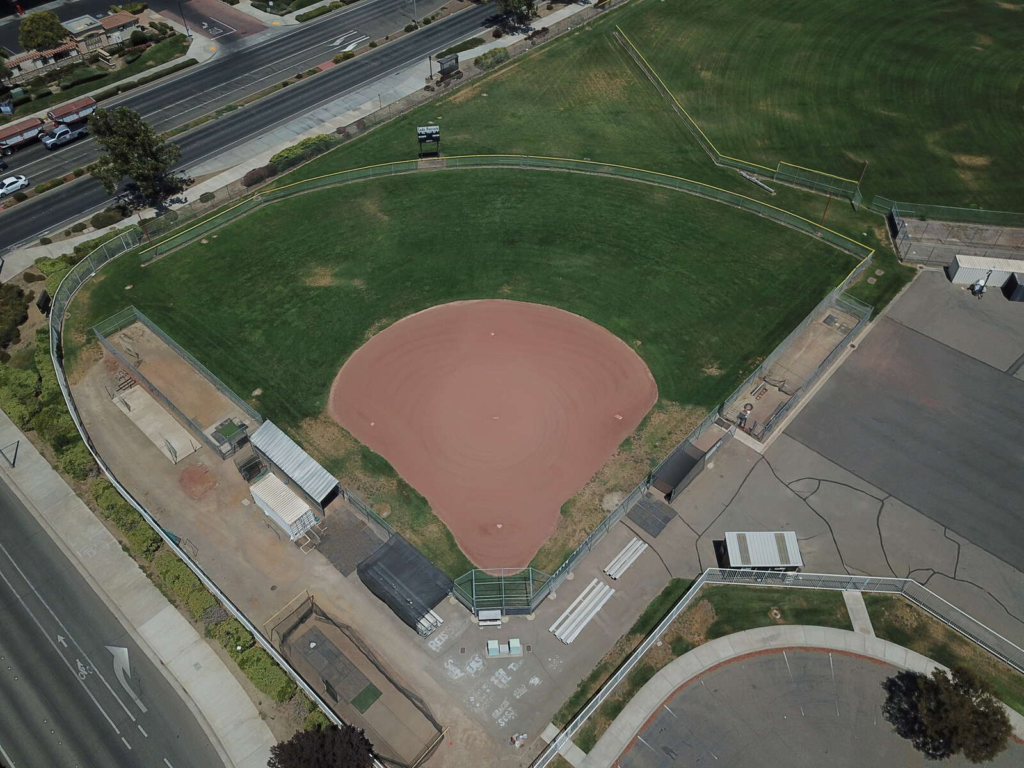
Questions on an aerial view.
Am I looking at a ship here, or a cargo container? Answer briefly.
cargo container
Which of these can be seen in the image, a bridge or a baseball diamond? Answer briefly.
baseball diamond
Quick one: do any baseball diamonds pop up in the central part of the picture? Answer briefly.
Yes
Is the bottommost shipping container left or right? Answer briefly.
left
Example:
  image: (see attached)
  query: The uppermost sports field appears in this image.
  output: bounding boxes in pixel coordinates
[139,0,1024,317]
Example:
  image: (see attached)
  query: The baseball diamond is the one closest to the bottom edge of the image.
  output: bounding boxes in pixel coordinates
[64,167,872,608]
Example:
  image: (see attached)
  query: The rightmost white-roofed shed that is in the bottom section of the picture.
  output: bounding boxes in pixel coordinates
[722,534,806,581]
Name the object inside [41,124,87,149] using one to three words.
truck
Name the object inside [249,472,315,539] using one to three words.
shipping container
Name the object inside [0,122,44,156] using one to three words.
trailer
